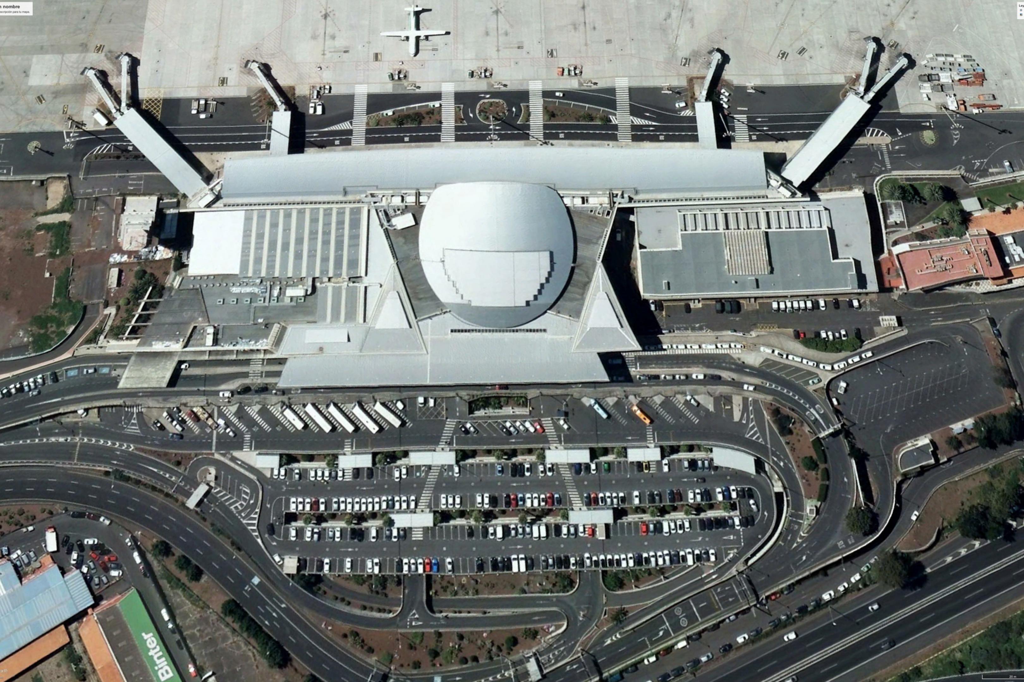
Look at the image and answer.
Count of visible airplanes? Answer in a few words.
1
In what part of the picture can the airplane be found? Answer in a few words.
top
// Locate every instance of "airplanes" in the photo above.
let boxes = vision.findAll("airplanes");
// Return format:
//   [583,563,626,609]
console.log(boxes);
[381,6,446,56]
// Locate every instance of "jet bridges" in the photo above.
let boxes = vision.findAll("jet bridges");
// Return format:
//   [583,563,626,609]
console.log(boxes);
[855,31,878,93]
[77,63,123,118]
[698,43,723,101]
[112,47,135,112]
[239,53,288,111]
[860,46,909,101]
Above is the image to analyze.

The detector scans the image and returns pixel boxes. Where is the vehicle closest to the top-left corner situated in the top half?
[93,109,109,126]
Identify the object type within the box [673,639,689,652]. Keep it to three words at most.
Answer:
vehicle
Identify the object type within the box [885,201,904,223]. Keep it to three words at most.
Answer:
shed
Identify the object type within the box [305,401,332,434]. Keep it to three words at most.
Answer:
bus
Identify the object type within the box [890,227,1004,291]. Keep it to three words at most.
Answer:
building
